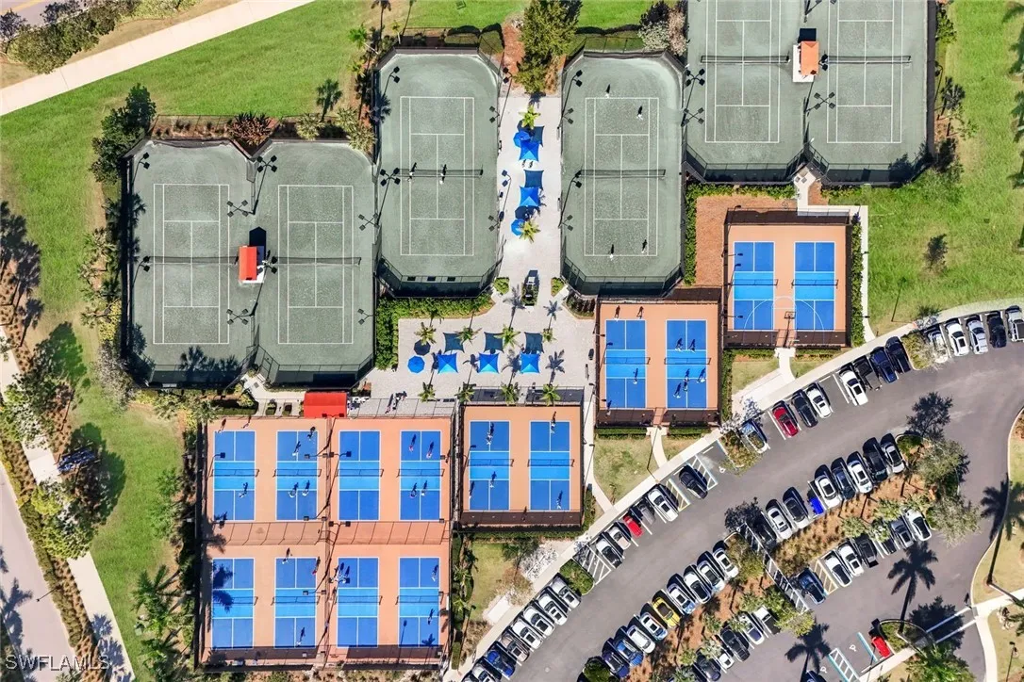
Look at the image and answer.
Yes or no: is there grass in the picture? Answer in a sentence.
Yes, some grass is visible.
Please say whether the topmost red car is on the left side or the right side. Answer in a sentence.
The topmost red car sits on the right side.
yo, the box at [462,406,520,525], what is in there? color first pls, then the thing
blue sports court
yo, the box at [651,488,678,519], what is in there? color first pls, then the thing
white car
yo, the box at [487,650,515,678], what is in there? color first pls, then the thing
blue car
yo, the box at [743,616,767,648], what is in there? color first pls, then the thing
white car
